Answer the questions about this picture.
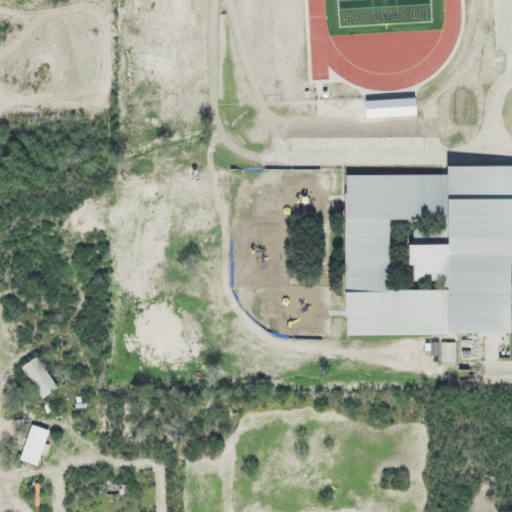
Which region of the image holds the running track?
top right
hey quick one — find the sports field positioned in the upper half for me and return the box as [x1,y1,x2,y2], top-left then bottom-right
[326,0,444,36]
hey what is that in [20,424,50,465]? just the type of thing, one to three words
house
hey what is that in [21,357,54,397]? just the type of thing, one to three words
house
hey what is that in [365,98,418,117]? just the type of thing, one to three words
building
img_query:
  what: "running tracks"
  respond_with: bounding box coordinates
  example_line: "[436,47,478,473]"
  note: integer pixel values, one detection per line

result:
[306,0,464,94]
